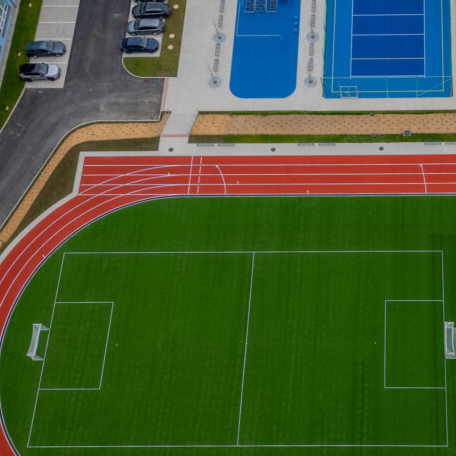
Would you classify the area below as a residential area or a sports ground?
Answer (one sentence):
What you see here is a sports ground.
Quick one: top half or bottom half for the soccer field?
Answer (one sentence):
It is in the bottom half that the soccer field appears.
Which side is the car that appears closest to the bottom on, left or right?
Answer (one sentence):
You can find the car that appears closest to the bottom on the left side of the picture.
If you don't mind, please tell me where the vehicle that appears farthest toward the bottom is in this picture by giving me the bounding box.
[17,61,62,81]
